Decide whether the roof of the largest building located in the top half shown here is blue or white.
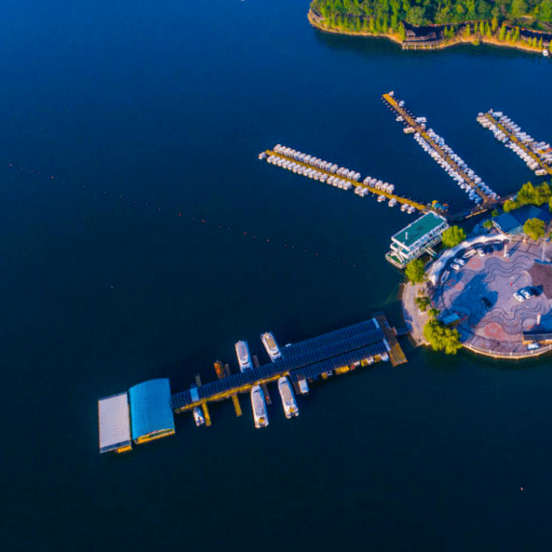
blue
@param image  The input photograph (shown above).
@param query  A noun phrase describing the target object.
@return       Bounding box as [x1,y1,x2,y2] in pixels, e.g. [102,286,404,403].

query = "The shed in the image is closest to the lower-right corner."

[522,327,552,344]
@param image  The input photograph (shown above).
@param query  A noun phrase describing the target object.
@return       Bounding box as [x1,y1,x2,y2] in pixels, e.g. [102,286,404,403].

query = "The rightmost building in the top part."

[490,197,550,235]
